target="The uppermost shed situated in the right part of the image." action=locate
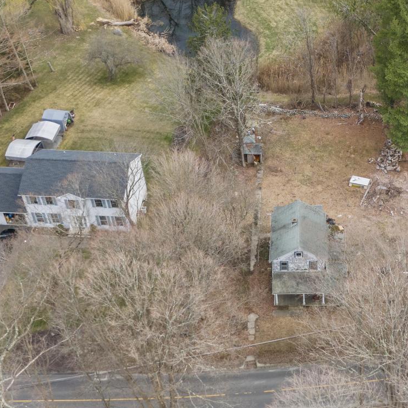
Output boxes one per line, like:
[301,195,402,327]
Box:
[242,139,264,164]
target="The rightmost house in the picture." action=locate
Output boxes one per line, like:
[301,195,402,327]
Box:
[269,194,347,315]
